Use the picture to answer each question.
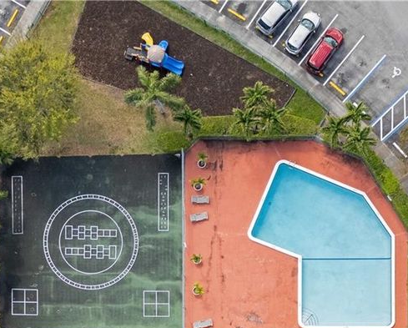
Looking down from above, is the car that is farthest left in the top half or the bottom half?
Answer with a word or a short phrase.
top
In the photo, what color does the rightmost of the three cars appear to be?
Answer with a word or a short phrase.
red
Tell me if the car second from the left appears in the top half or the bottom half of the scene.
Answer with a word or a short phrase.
top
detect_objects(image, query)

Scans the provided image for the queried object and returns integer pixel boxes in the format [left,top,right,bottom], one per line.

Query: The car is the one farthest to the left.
[254,0,300,41]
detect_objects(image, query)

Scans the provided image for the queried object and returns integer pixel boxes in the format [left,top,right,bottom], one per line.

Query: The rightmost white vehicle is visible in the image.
[284,10,322,57]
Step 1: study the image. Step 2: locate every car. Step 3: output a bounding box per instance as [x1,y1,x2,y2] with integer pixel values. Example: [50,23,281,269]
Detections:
[254,0,300,41]
[284,10,322,57]
[305,25,347,77]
